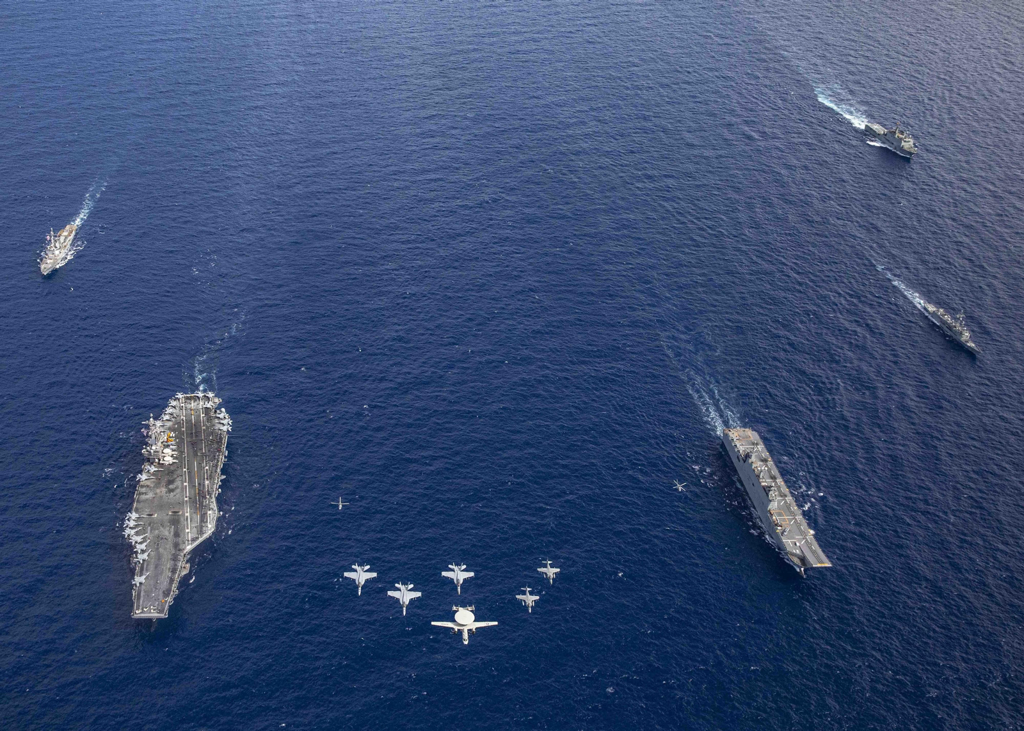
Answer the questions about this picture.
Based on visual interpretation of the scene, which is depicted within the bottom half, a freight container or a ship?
ship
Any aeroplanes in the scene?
Yes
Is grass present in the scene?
No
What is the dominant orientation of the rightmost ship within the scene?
diagonally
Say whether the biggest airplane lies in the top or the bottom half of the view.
bottom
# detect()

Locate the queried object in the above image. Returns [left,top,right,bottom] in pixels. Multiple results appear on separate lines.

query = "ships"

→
[724,428,832,579]
[130,395,240,623]
[865,123,918,157]
[42,226,81,277]
[923,304,983,355]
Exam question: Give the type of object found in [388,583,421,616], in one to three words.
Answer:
airplane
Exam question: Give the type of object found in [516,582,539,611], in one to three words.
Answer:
airplane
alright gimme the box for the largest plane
[431,605,498,645]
